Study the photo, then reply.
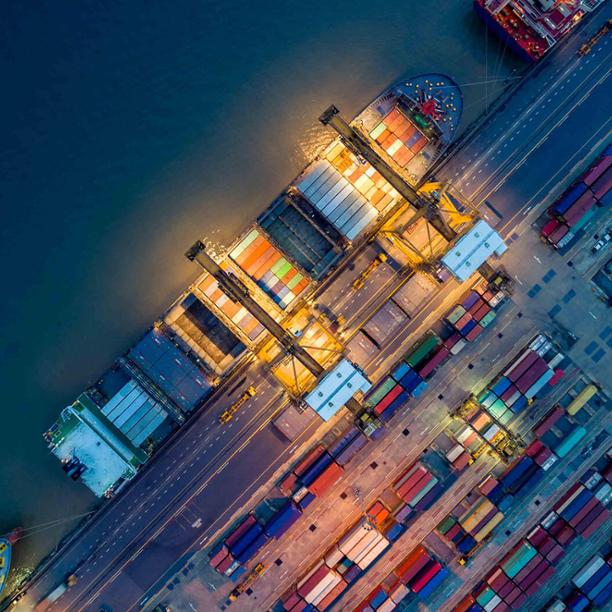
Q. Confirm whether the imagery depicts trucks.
Yes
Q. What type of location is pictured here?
port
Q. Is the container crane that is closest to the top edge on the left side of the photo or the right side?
right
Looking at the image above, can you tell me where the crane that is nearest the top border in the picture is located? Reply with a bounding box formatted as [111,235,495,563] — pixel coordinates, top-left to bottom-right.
[317,104,510,297]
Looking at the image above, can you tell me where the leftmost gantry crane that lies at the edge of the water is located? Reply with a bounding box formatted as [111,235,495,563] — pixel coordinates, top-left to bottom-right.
[184,240,378,433]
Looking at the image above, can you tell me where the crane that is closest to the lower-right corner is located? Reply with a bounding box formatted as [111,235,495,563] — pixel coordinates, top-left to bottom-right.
[443,388,520,462]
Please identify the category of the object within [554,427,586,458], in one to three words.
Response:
shipping container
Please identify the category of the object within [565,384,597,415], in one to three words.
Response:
shipping container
